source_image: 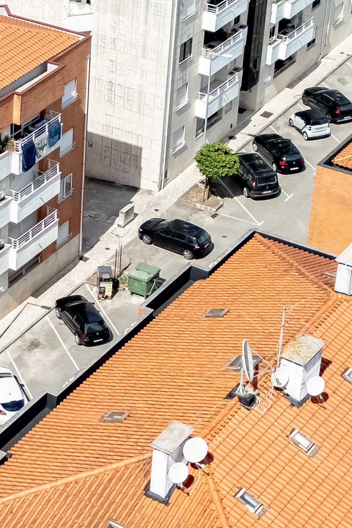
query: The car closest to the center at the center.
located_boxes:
[136,213,217,260]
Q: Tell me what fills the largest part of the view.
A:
buildings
